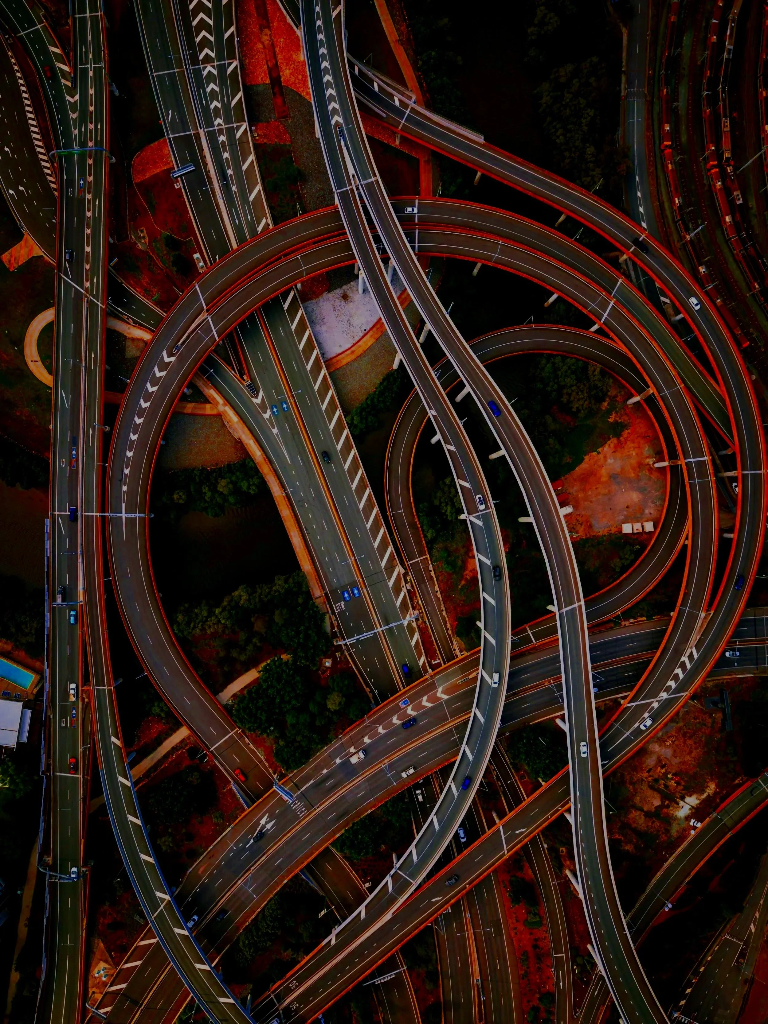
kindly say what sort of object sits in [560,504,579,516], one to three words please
vehicle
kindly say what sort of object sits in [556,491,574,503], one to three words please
vehicle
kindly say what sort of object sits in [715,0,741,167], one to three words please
train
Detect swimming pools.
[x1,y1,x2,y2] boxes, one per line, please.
[0,657,35,690]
